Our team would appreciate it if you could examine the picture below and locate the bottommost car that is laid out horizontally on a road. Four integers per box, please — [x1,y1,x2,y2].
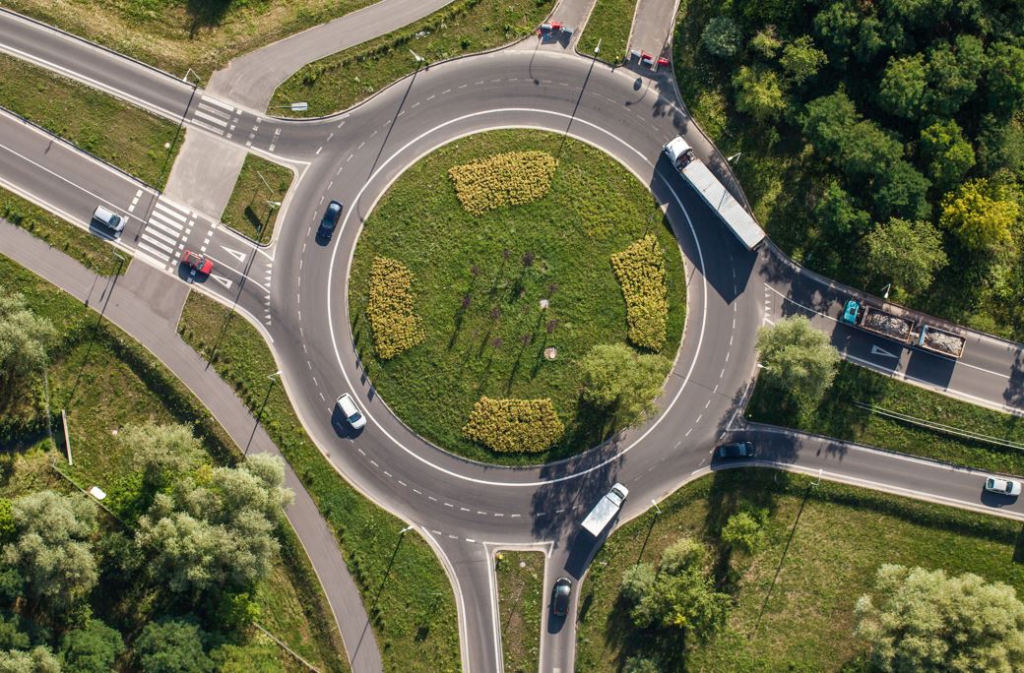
[986,477,1023,495]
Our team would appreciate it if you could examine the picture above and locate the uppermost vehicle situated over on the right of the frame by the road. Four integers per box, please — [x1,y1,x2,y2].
[662,135,766,250]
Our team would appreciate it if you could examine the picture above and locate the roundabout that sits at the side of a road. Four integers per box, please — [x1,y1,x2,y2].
[270,51,763,544]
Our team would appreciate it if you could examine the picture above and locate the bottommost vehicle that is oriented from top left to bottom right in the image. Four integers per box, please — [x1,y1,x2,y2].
[335,392,366,428]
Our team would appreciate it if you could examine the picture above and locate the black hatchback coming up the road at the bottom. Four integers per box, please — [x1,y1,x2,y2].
[554,579,571,615]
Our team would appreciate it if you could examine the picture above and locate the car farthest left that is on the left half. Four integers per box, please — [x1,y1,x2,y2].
[91,205,126,231]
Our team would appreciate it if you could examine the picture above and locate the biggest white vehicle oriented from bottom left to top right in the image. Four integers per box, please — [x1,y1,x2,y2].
[581,482,629,537]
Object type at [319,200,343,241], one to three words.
car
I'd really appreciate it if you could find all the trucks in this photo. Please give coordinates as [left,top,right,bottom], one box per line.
[662,135,766,250]
[581,482,629,537]
[840,300,967,358]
